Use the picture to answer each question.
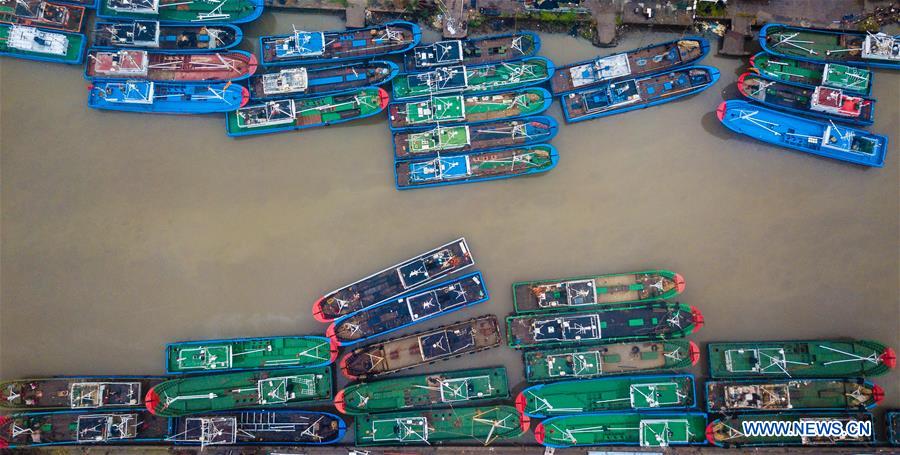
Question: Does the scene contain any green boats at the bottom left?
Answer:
Yes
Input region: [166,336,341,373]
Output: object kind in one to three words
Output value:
boat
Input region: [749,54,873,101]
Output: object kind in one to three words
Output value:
boat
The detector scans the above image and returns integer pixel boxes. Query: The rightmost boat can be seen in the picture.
[879,410,900,444]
